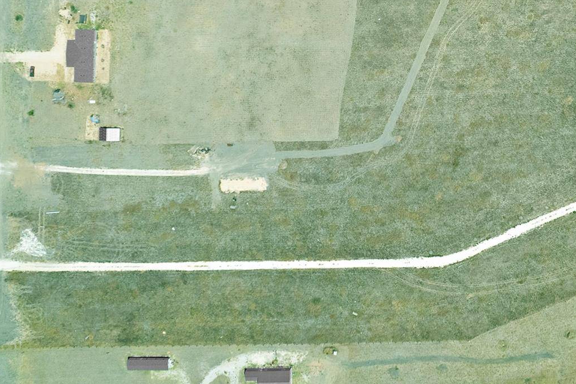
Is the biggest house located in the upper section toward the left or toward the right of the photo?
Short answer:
left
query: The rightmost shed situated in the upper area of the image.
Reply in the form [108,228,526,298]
[99,127,123,142]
